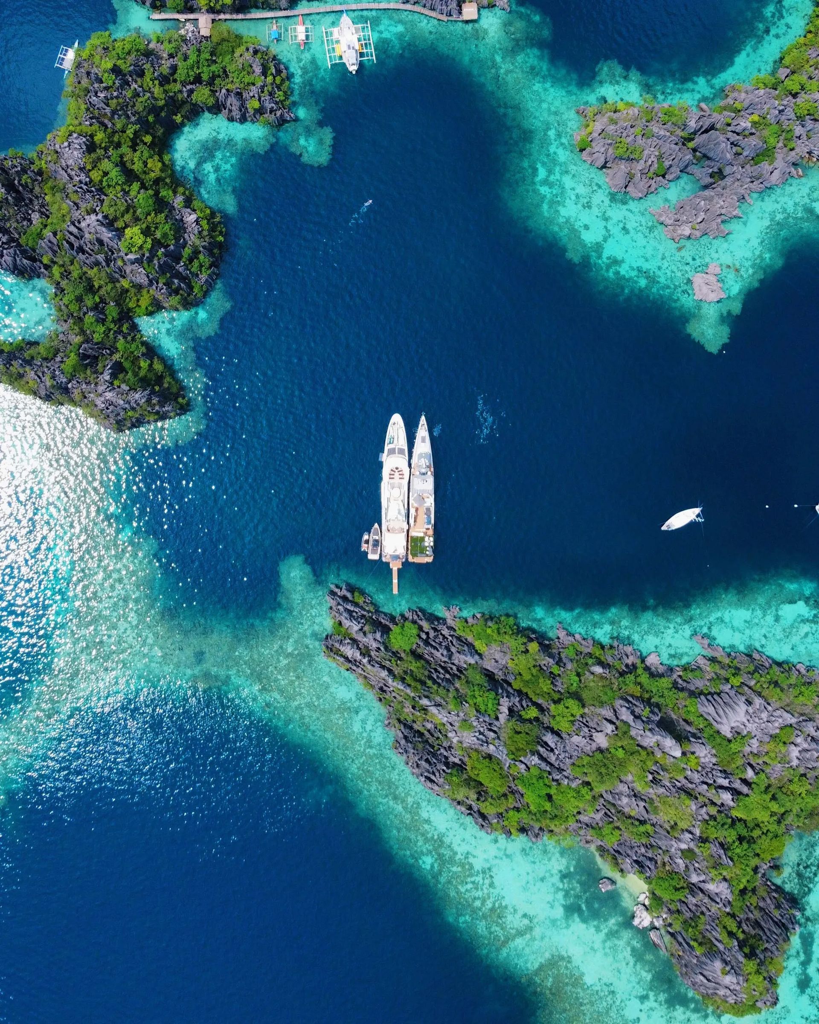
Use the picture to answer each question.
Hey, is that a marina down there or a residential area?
marina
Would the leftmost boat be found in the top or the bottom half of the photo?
top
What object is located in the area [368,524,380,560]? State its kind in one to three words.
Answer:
boat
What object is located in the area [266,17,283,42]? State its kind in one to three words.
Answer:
boat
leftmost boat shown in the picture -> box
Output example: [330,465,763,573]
[54,37,78,77]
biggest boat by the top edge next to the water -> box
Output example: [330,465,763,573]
[322,2,376,74]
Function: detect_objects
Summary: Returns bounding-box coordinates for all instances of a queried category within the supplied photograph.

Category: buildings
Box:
[462,3,478,25]
[199,15,212,36]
